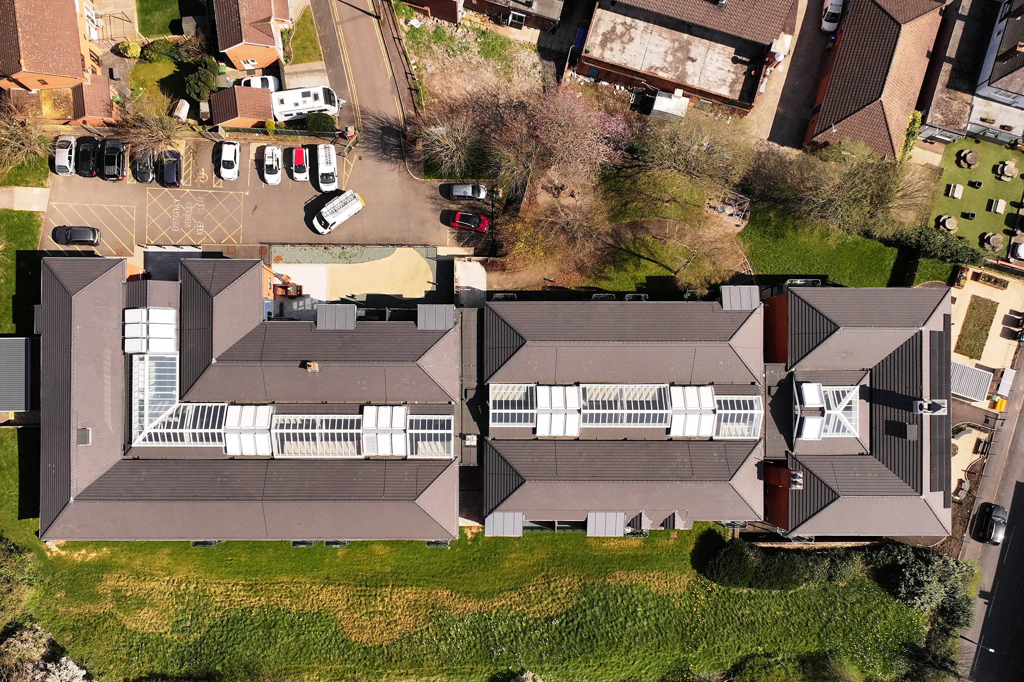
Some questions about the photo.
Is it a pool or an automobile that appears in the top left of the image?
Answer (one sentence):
It is an automobile that can be seen in the top left of the image.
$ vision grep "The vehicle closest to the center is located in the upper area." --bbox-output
[449,209,492,235]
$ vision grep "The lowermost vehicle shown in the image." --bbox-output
[977,500,1010,547]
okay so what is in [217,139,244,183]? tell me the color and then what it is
white car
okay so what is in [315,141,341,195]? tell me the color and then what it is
white vehicle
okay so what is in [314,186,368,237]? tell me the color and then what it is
white van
